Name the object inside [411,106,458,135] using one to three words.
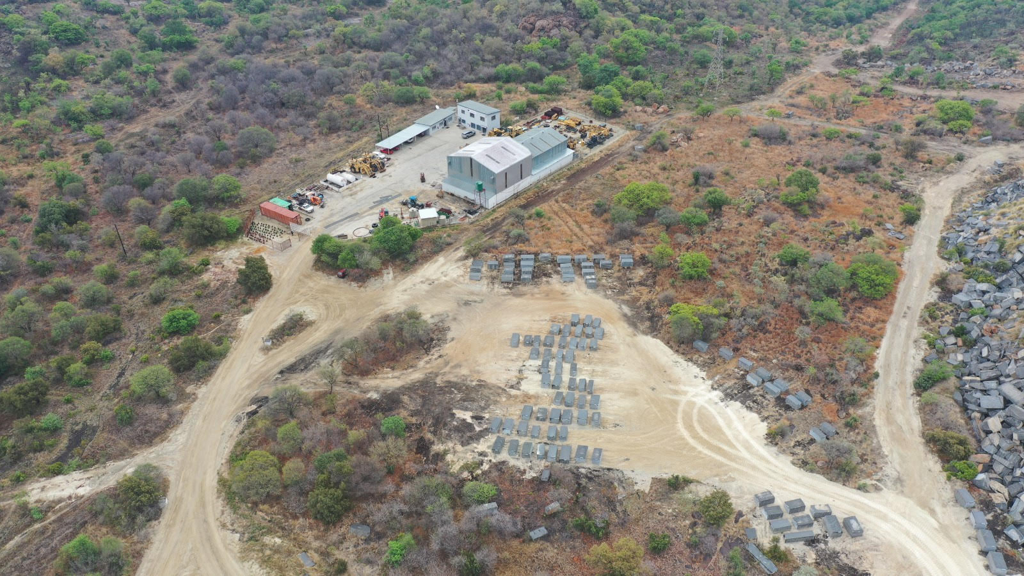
building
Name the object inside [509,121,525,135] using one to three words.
work vehicle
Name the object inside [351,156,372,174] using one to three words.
work vehicle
